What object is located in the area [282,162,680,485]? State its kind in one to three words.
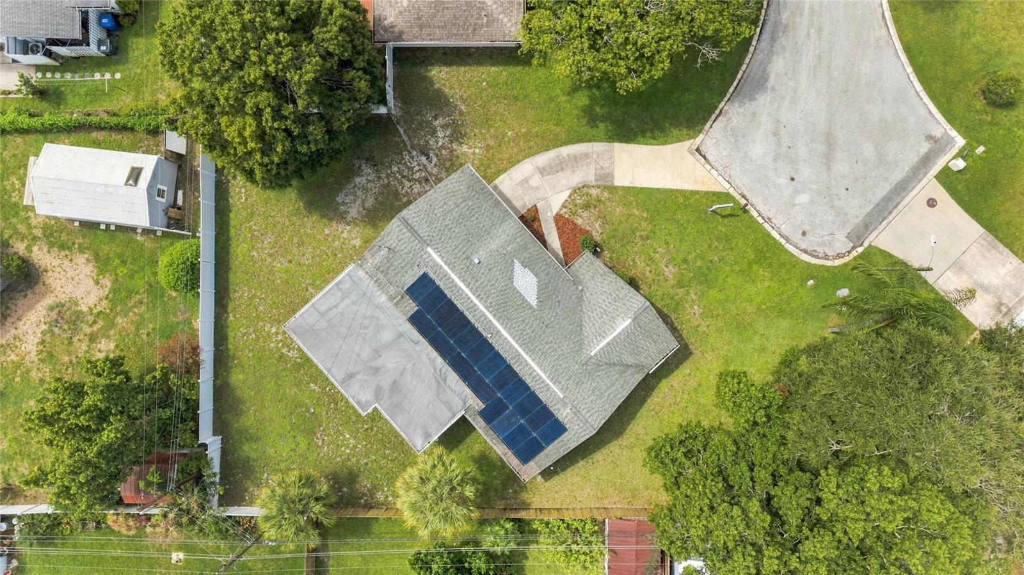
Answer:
house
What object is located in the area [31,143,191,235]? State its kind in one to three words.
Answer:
shed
